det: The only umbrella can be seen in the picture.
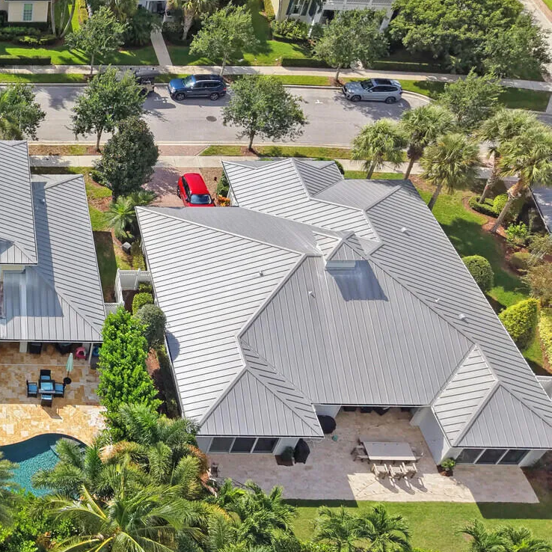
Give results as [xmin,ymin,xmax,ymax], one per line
[61,354,74,385]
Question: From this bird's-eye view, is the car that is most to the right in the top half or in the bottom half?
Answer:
top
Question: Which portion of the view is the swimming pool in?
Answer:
bottom left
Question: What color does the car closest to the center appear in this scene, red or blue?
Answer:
red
